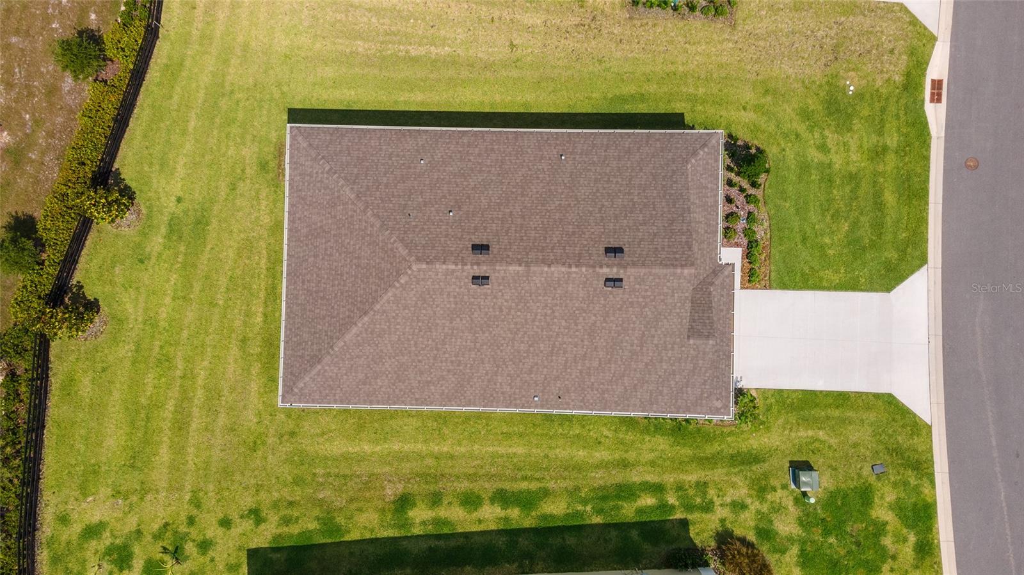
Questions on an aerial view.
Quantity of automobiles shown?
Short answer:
none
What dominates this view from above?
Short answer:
grass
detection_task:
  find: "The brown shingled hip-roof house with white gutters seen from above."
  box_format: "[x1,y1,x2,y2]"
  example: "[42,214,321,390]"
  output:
[279,126,735,418]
